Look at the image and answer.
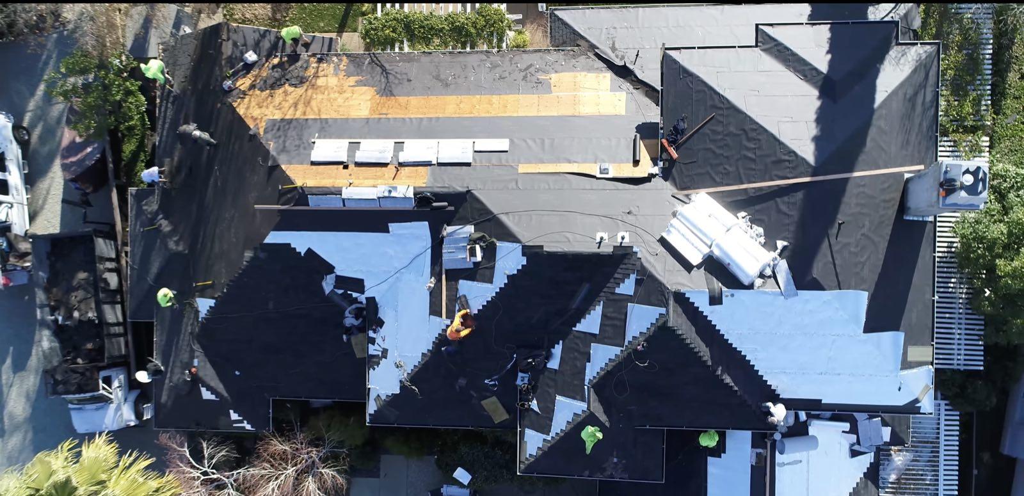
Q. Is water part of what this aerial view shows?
No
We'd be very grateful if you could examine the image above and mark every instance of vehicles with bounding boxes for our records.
[0,112,31,285]
[22,219,149,435]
